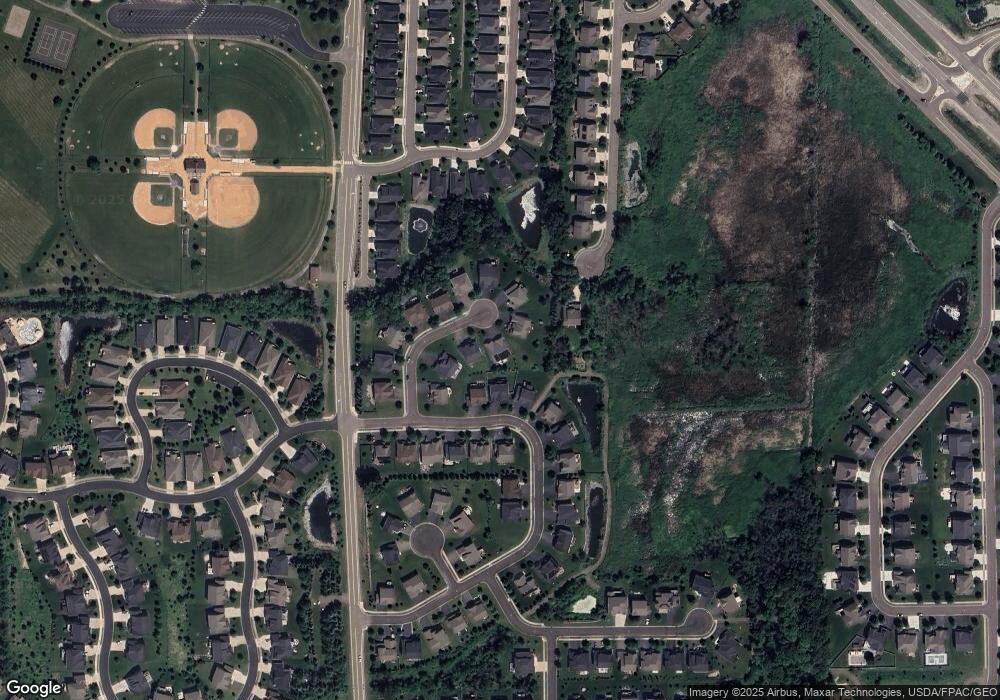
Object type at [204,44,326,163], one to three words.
baseball field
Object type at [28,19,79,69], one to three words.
tennis court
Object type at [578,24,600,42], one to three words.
house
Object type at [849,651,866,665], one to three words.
swimming pool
